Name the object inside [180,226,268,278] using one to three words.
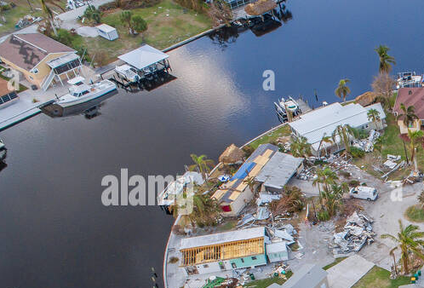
house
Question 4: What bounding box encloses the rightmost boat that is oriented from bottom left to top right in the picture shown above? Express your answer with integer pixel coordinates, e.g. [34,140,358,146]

[157,169,196,205]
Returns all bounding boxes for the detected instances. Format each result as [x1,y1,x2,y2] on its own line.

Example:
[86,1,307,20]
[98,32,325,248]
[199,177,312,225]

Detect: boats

[157,169,196,205]
[52,76,118,105]
[280,95,303,119]
[115,64,143,83]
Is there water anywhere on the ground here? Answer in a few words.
Yes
